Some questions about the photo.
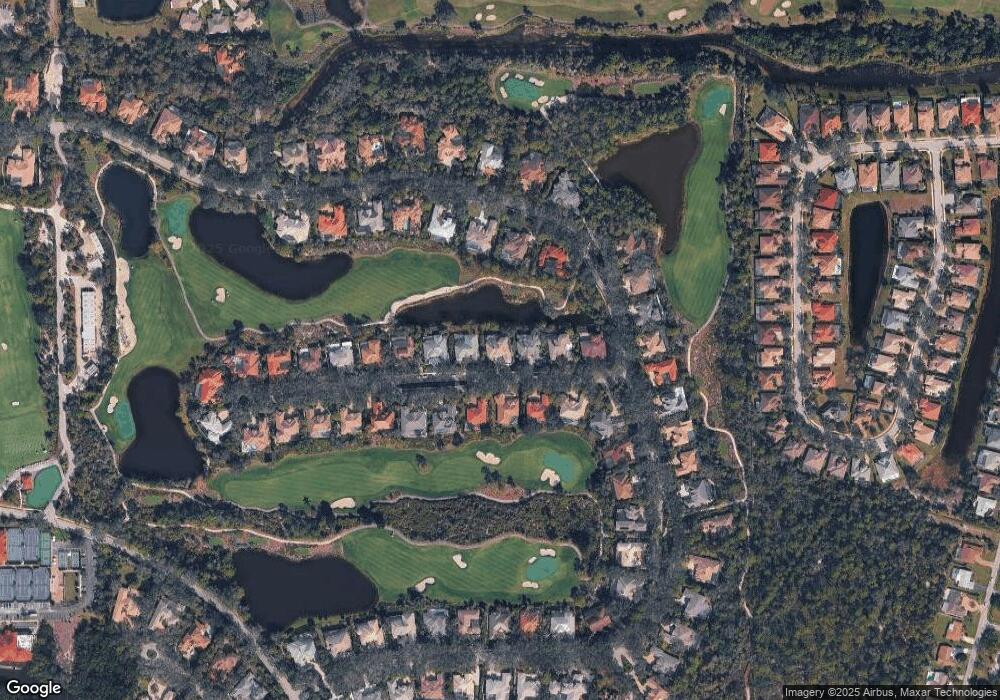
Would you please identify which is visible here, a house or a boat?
house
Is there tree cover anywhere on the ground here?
Yes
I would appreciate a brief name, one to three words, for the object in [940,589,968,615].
house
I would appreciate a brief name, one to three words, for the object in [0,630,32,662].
building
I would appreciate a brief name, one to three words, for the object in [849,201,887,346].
pond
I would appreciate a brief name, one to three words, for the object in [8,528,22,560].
tennis court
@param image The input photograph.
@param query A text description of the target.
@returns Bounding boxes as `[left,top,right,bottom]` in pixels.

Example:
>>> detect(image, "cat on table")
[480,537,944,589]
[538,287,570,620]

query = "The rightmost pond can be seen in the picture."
[942,194,1000,457]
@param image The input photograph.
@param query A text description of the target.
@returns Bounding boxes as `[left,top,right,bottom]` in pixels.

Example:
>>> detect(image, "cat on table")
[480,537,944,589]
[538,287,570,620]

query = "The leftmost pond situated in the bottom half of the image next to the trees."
[120,366,202,480]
